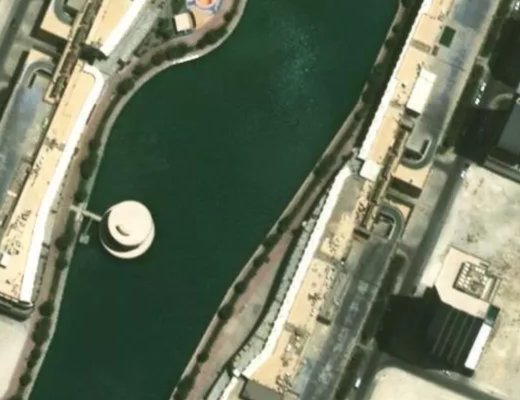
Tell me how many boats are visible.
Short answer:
0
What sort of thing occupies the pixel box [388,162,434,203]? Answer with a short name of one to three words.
building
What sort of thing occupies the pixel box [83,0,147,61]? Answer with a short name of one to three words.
building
